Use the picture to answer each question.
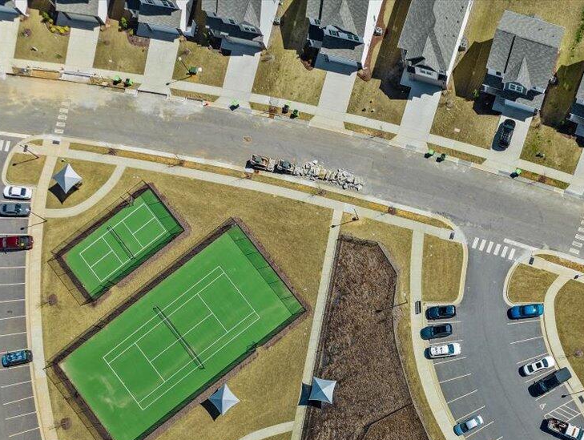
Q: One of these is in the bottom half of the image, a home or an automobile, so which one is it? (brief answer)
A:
automobile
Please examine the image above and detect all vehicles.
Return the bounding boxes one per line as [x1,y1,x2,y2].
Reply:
[431,342,462,358]
[531,366,576,396]
[453,415,485,436]
[499,117,516,148]
[420,324,453,340]
[0,349,33,365]
[0,235,34,251]
[524,356,556,376]
[509,304,544,319]
[546,417,584,440]
[426,305,456,320]
[0,201,31,216]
